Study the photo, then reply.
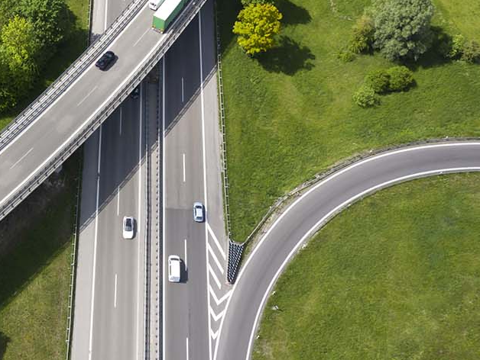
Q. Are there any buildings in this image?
No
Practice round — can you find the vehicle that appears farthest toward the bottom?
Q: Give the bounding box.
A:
[167,256,182,283]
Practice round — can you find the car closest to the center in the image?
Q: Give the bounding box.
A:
[193,201,205,224]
